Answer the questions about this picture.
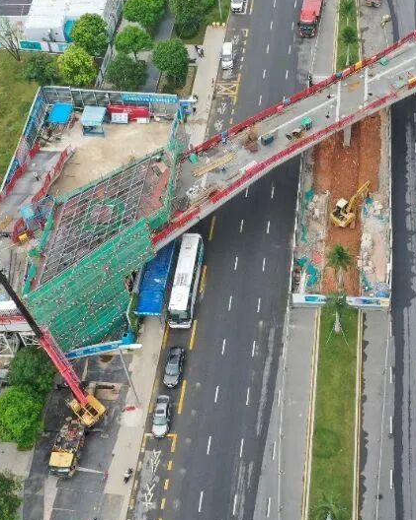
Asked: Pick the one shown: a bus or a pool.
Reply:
bus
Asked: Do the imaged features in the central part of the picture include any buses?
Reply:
Yes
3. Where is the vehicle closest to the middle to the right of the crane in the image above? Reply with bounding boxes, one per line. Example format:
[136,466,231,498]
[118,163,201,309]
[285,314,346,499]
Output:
[161,235,203,333]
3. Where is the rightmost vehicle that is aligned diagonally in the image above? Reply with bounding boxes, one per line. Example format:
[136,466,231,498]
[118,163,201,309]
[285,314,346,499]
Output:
[324,179,375,232]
